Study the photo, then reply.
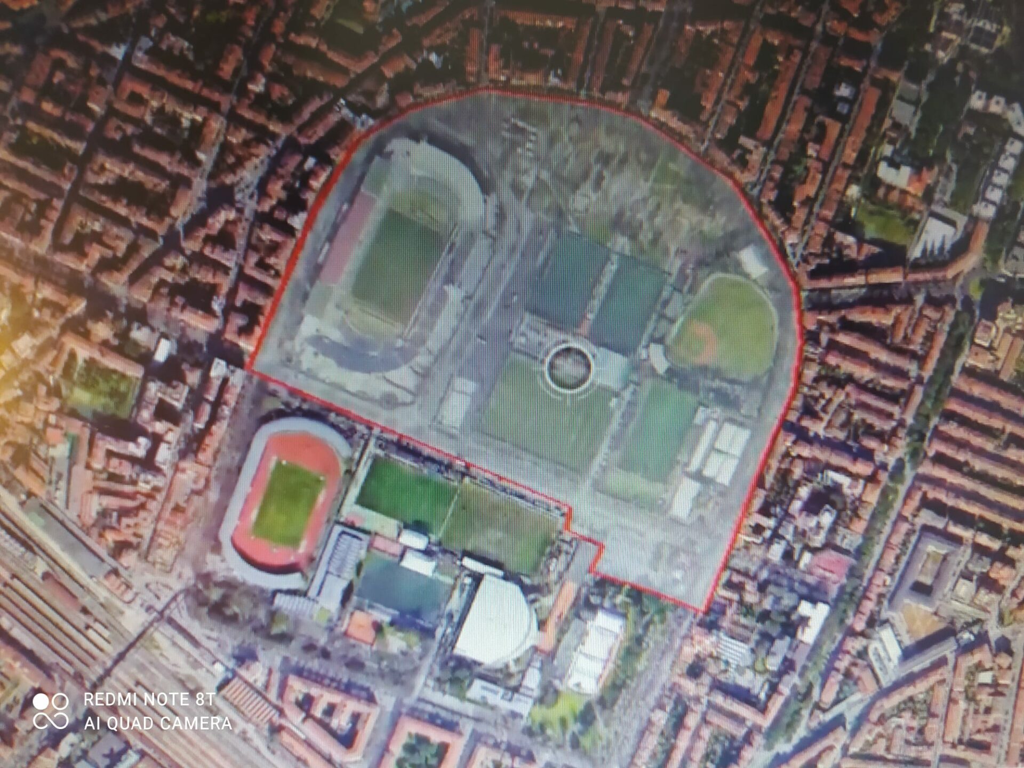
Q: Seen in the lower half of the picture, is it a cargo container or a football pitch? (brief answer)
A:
football pitch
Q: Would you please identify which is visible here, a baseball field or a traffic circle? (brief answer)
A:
baseball field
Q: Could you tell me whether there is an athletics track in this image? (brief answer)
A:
Yes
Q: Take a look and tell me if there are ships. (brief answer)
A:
No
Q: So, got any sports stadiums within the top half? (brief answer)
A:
Yes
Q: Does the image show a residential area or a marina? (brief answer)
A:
residential area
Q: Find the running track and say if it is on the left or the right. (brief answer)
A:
left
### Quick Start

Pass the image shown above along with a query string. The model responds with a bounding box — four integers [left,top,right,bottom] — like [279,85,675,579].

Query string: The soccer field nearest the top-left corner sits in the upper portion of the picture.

[351,209,448,324]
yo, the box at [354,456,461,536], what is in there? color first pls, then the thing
green soccer field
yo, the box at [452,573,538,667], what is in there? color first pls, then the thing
white stadium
